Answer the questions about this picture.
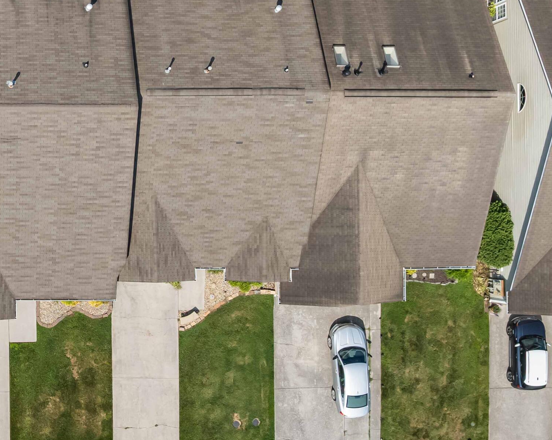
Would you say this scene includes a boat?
No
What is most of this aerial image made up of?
buildings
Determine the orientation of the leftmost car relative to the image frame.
vertically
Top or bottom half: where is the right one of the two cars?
bottom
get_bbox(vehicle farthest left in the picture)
[331,325,380,420]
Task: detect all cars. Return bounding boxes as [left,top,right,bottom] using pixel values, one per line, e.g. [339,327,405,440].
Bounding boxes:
[500,319,551,395]
[331,325,380,420]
